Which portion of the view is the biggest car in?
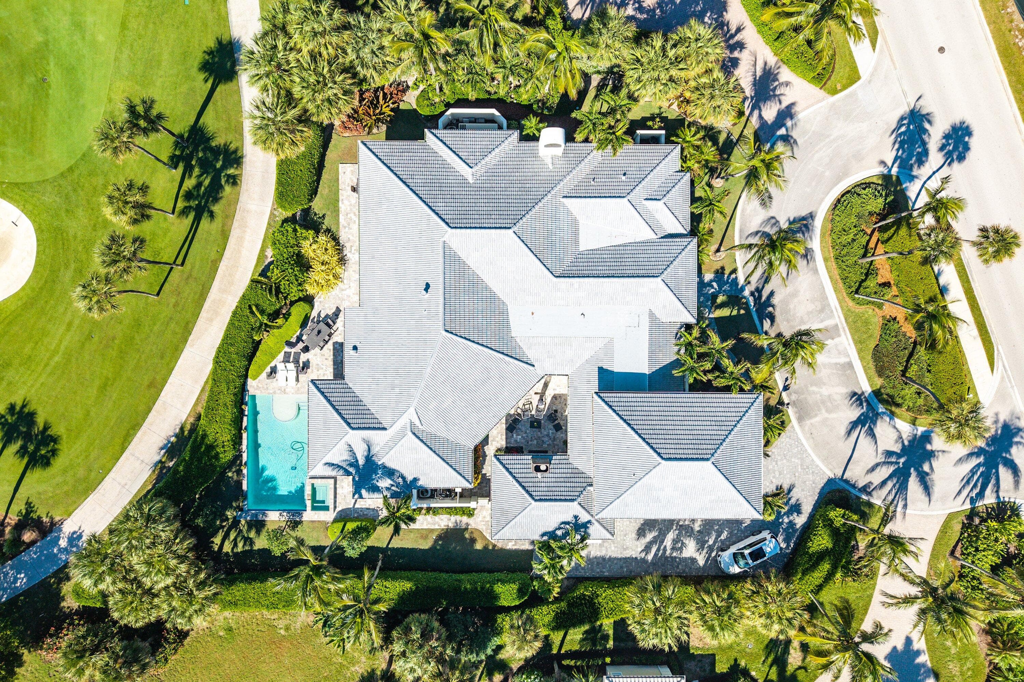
bottom right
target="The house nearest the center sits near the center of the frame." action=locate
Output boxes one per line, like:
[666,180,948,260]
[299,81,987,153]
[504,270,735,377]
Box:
[307,127,764,541]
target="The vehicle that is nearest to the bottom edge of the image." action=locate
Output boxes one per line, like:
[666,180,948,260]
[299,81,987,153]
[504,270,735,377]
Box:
[718,529,779,574]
